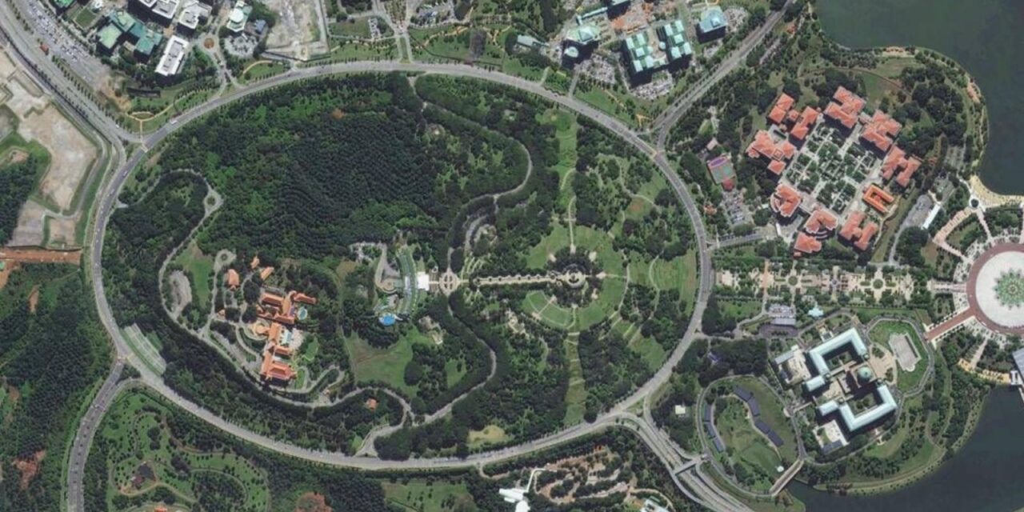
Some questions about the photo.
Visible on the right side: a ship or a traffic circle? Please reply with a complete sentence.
The feature located on the right side is a traffic circle.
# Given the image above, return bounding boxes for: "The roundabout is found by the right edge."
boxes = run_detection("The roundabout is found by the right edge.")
[963,240,1024,338]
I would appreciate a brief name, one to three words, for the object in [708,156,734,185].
tennis court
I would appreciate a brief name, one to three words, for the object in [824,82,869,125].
building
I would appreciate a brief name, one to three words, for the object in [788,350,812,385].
building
